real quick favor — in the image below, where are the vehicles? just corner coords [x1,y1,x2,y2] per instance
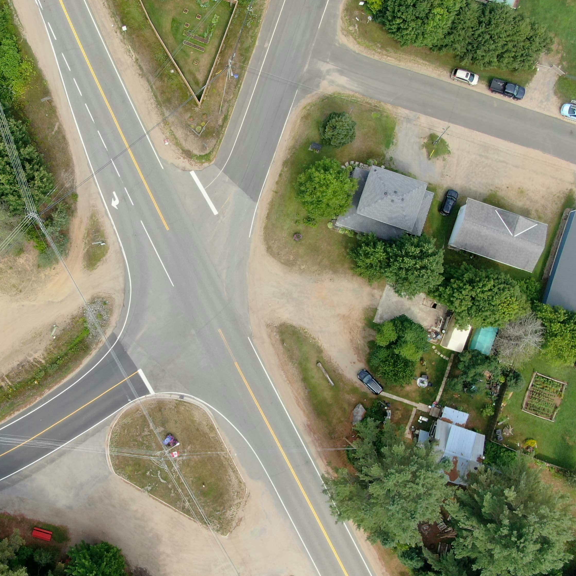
[438,187,459,218]
[489,77,529,99]
[450,65,481,85]
[357,366,386,398]
[560,101,576,119]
